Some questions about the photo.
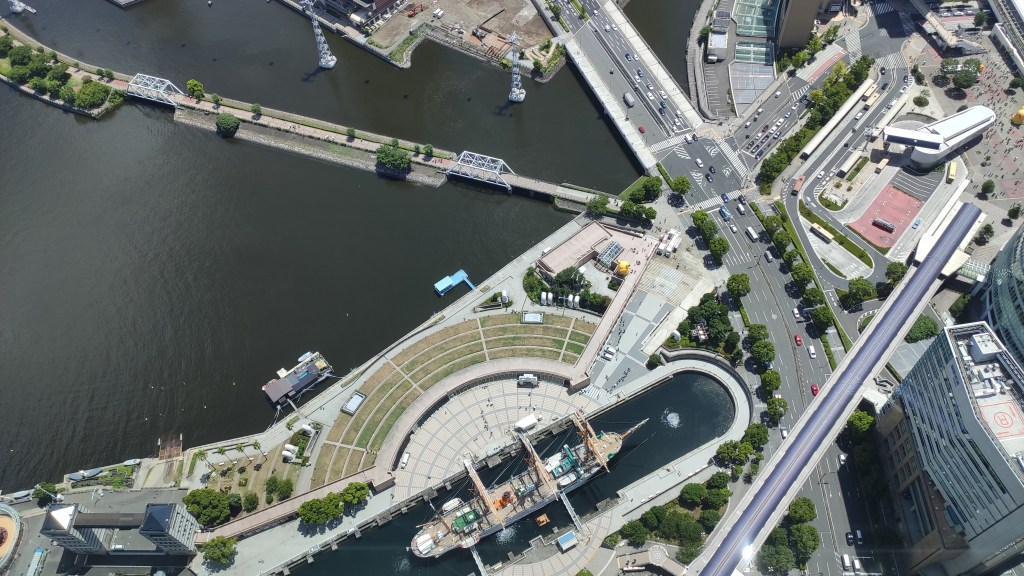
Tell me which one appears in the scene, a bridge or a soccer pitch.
bridge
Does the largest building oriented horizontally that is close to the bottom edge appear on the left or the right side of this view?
left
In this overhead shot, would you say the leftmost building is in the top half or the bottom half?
bottom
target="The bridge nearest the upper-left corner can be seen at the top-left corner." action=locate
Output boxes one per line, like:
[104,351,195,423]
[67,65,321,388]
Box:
[126,72,187,108]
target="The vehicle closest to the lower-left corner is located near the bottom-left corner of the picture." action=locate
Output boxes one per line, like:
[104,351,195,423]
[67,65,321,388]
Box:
[22,542,49,576]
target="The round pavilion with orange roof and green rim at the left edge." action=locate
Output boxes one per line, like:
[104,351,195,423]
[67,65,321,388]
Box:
[0,495,34,566]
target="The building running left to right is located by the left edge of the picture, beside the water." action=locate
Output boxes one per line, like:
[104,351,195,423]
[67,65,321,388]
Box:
[39,501,203,571]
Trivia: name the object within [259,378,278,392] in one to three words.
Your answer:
boat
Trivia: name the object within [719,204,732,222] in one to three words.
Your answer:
vehicle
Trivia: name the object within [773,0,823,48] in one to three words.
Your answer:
building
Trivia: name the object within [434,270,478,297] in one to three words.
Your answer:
pier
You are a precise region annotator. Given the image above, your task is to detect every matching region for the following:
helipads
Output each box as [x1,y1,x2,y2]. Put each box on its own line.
[977,397,1024,447]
